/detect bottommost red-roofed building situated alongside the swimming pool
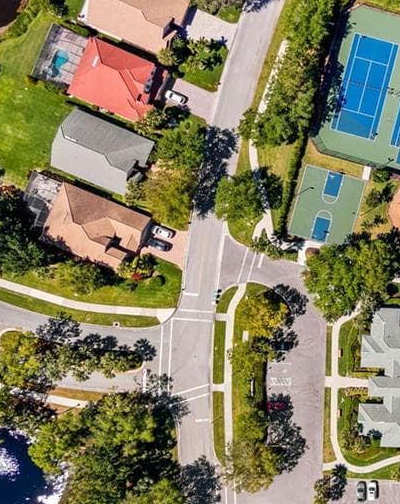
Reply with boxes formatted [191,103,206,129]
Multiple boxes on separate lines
[68,36,159,121]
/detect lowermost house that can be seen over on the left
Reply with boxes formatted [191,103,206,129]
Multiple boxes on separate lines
[42,182,154,266]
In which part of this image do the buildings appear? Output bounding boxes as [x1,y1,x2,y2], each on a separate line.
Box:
[51,107,157,195]
[42,182,154,266]
[68,36,159,121]
[359,308,400,447]
[83,0,194,55]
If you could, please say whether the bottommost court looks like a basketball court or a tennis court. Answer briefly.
basketball court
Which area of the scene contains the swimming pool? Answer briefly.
top left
